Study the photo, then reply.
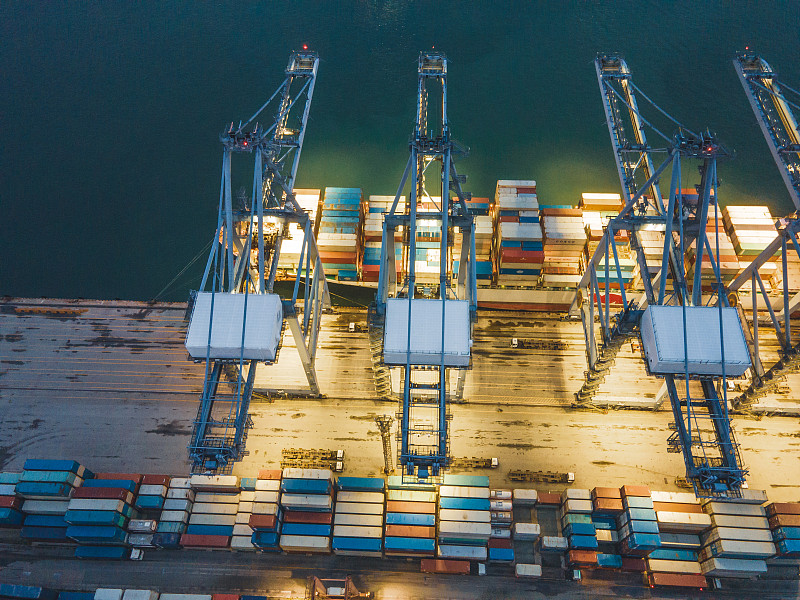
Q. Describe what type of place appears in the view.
port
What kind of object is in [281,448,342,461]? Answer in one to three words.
vehicle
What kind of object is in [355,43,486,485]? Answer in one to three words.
container crane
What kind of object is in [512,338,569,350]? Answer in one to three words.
vehicle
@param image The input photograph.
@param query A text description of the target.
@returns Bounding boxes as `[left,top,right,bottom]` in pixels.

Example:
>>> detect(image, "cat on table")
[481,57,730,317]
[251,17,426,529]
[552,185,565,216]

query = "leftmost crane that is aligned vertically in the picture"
[177,44,346,478]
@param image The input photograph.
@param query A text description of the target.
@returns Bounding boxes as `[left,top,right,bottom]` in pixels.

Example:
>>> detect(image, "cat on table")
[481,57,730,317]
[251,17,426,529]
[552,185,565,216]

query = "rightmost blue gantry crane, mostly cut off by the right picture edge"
[722,43,800,412]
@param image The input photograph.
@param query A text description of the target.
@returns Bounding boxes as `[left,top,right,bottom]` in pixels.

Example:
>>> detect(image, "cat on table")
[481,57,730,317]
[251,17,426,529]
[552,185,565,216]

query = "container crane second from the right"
[556,43,753,495]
